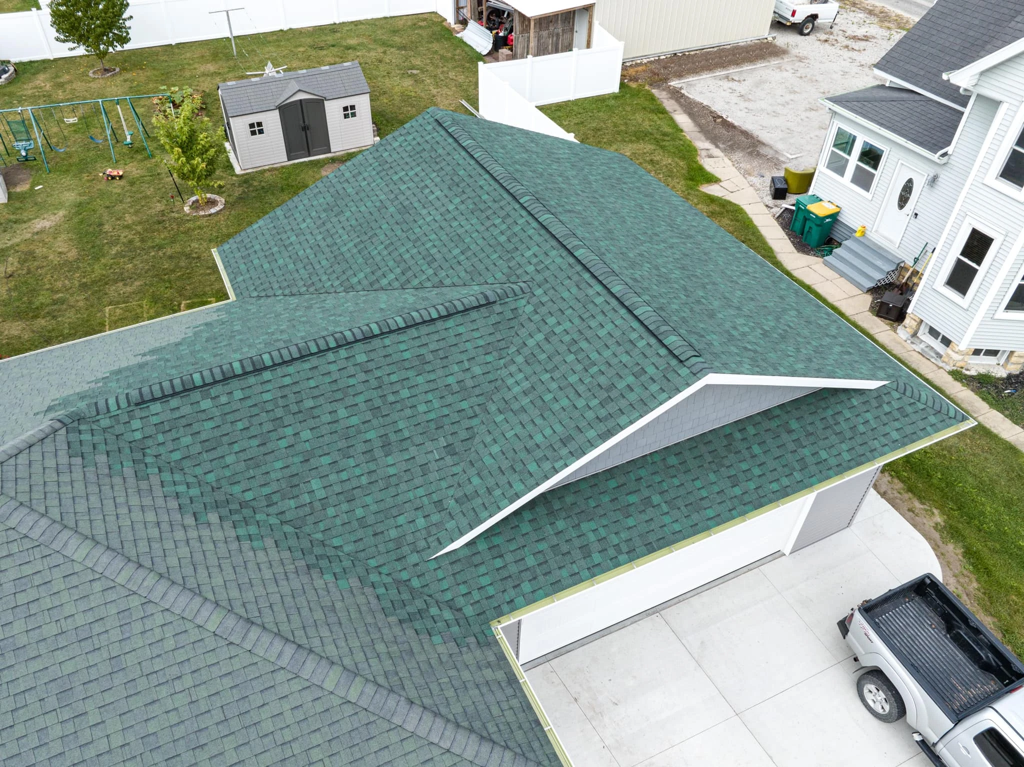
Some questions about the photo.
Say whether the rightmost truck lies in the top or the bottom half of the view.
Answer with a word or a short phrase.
bottom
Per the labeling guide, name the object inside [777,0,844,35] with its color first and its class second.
white trailer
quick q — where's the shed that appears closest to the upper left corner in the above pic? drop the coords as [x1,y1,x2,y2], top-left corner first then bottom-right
[212,59,374,169]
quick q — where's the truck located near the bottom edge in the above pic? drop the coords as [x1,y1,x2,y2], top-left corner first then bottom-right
[834,570,1024,767]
